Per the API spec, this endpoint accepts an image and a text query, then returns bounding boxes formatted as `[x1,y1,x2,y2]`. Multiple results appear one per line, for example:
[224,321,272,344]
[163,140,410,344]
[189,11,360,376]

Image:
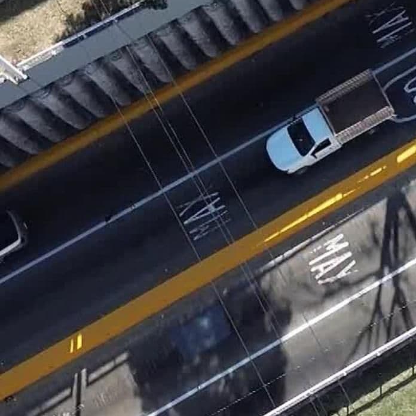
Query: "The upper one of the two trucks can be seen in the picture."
[264,71,396,175]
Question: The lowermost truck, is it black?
Yes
